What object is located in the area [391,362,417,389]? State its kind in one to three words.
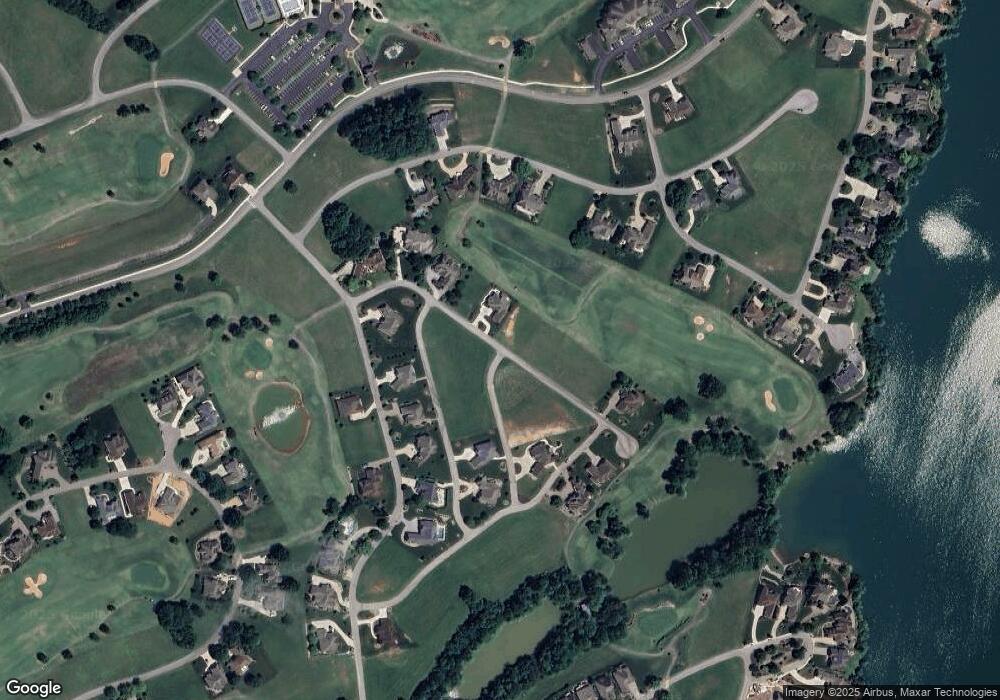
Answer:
house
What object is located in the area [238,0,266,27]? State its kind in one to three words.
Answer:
tennis court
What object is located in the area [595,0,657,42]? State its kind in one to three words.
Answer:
building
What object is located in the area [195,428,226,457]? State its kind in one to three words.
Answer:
house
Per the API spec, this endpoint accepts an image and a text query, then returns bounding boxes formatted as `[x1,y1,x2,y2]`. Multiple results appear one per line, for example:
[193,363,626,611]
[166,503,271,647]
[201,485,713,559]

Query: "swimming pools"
[438,526,444,539]
[342,520,352,533]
